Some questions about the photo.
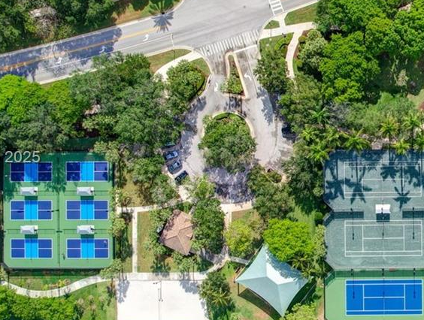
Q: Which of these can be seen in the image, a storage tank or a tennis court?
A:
tennis court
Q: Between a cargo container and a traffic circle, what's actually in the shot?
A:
traffic circle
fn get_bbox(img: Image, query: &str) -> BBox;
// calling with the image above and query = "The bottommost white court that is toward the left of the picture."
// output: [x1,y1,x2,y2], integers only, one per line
[116,279,209,320]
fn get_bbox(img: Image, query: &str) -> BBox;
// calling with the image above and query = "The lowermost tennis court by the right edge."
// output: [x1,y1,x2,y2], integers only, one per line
[325,271,424,320]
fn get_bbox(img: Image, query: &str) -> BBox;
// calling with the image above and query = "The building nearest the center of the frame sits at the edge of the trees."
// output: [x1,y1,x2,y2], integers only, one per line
[162,215,194,251]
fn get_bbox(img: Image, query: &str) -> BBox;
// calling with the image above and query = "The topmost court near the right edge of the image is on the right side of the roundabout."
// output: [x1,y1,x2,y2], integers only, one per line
[325,150,424,209]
